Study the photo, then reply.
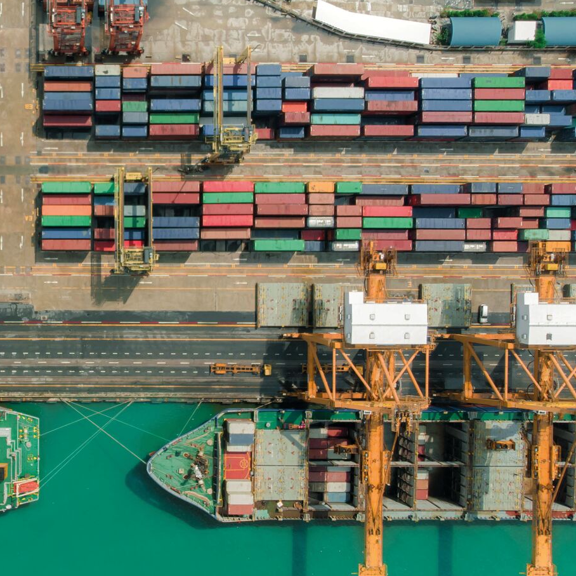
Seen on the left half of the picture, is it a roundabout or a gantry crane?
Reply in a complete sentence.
Visible on the left half of the picture is a gantry crane.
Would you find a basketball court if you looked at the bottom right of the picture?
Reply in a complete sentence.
No, there's no basketball court to be seen at the bottom right of the picture.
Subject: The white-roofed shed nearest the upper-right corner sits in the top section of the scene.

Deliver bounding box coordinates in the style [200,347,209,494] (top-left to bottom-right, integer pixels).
[505,21,537,45]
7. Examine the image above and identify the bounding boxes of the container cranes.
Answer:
[427,238,576,576]
[46,0,93,52]
[196,42,256,159]
[107,165,158,274]
[96,0,148,52]
[274,237,432,576]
